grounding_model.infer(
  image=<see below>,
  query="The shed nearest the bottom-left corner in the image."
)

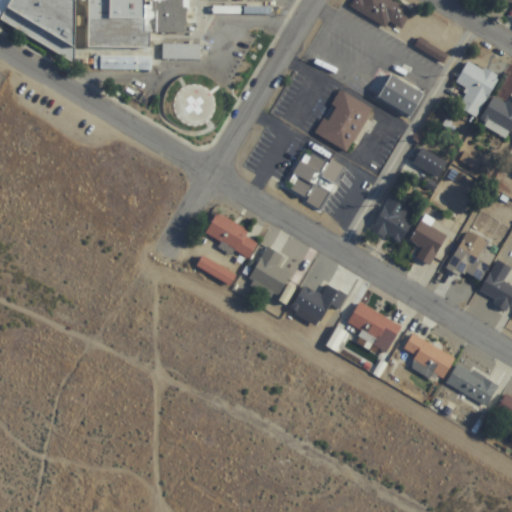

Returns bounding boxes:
[196,256,237,286]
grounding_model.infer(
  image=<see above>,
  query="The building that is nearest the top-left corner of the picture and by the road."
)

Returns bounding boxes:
[0,0,74,60]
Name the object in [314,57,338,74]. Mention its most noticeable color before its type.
white vehicle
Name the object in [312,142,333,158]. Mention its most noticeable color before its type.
white vehicle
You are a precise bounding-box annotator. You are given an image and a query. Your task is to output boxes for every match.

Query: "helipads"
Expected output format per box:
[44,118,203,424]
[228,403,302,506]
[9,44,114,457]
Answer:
[164,74,224,134]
